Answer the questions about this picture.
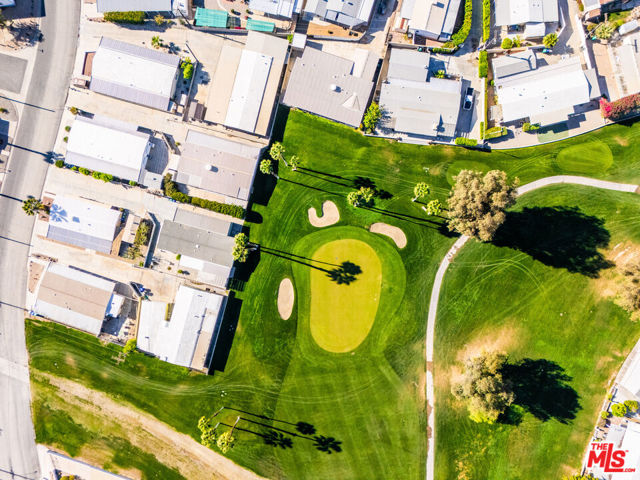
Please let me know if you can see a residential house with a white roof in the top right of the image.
Yes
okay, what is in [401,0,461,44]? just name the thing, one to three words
house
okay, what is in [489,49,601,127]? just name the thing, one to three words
house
